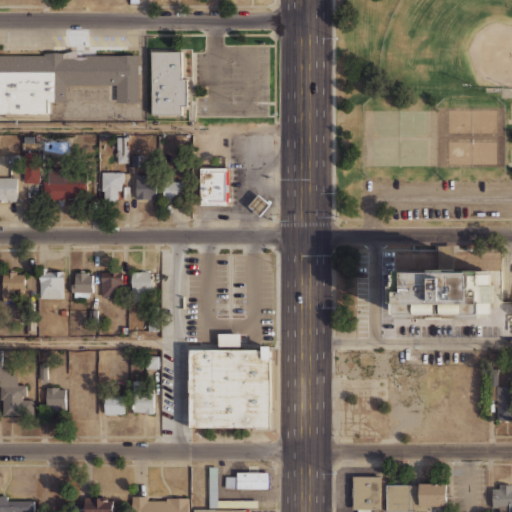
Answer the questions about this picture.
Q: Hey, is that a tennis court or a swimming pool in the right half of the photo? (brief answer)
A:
tennis court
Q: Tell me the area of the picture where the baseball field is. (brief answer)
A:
top right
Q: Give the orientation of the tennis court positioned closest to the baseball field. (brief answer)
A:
from side to side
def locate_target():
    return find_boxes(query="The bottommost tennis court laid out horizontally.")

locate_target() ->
[449,142,497,165]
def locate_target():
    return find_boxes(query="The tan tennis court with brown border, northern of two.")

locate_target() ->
[449,110,497,134]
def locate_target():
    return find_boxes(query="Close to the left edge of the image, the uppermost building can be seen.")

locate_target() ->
[0,54,140,121]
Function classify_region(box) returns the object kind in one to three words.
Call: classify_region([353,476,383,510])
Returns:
building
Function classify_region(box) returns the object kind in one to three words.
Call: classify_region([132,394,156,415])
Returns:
house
